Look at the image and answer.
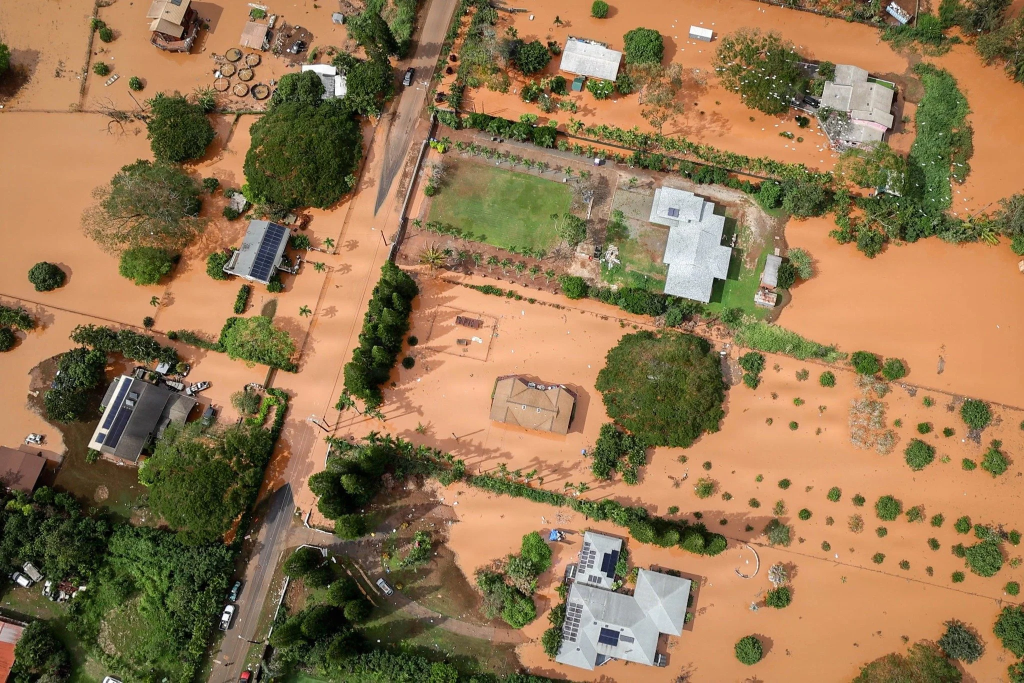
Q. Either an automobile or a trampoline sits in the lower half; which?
automobile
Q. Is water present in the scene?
Yes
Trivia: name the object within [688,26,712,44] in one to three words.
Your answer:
shed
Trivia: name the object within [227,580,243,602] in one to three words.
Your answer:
car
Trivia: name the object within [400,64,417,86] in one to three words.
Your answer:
vehicle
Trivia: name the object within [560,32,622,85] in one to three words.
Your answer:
house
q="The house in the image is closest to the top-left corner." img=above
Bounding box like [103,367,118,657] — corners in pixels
[147,0,204,58]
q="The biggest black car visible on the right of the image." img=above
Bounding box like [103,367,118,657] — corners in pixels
[803,95,822,107]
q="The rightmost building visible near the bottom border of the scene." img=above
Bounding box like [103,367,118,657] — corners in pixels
[556,531,692,671]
